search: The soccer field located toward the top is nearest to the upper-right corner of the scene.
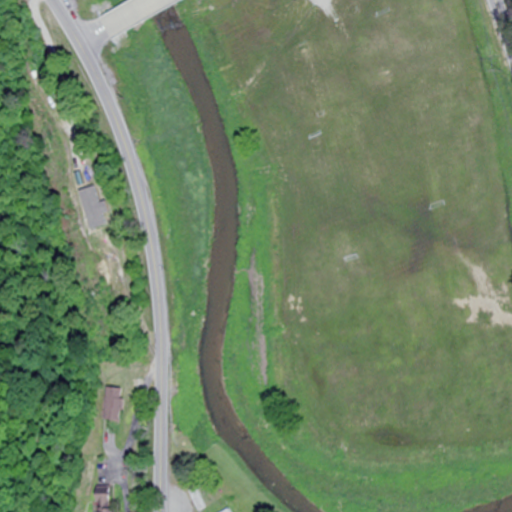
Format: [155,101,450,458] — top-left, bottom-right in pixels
[330,0,487,218]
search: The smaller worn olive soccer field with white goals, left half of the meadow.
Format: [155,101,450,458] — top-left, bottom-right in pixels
[282,125,384,266]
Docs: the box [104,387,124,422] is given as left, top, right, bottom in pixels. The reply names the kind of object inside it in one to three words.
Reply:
house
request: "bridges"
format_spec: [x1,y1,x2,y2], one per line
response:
[96,0,176,38]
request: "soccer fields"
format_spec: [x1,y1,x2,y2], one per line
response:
[330,0,487,218]
[282,125,384,266]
